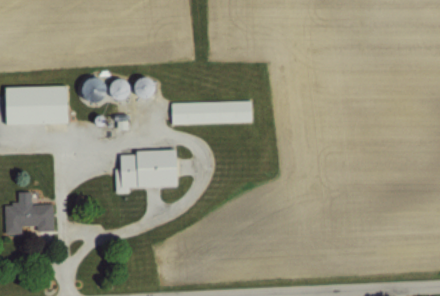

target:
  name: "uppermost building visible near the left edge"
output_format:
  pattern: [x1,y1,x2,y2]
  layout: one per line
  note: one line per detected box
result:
[5,86,69,126]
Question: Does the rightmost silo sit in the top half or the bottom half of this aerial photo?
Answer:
top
